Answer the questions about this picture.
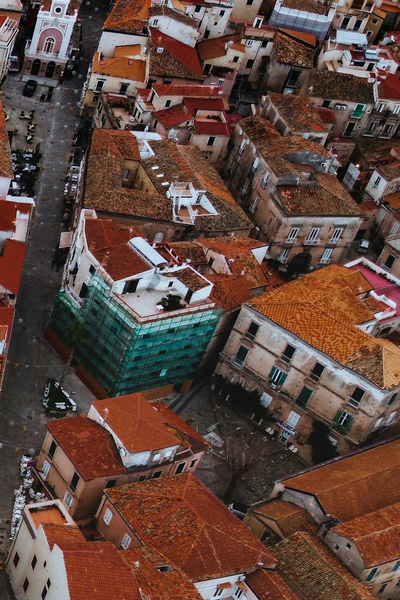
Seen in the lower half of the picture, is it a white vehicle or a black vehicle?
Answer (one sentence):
The feature located in the lower half of the picture is a black vehicle.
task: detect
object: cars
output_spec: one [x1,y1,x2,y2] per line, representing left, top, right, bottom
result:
[25,82,37,94]
[220,493,253,523]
